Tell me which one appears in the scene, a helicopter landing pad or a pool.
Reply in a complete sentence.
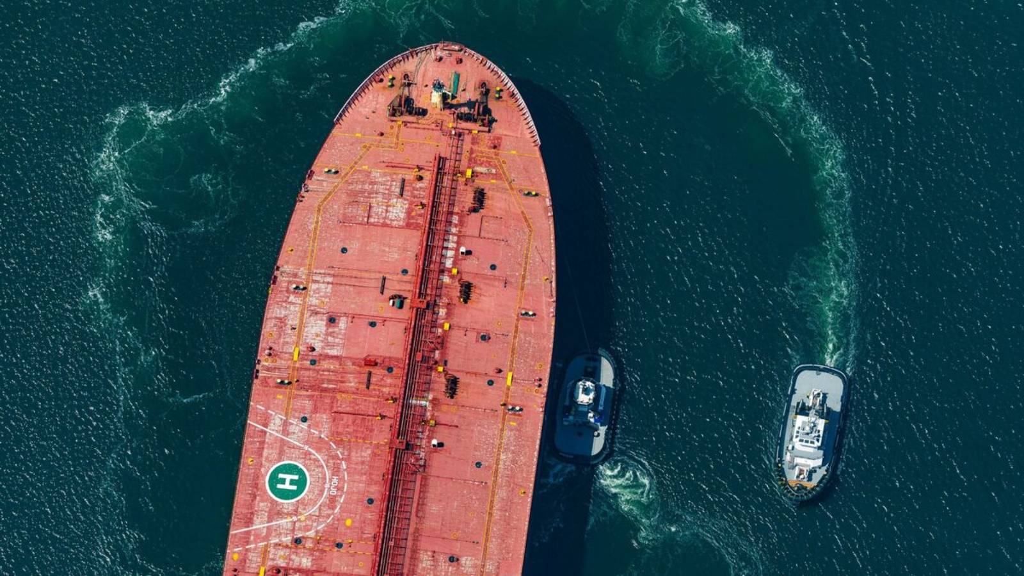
This aerial view contains a helicopter landing pad.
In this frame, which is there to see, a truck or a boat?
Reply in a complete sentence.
Looking from above, you can make out a boat.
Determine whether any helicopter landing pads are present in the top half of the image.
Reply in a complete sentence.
No, no helicopter landing pad can be made out in the top half of the image.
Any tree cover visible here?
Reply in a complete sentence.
No, the scene doesn't show any tree cover.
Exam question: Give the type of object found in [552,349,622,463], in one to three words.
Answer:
boat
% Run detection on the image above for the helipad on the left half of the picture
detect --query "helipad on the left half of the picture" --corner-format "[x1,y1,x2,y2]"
[228,403,347,551]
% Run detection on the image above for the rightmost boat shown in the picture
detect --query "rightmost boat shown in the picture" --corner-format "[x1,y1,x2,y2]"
[775,364,849,505]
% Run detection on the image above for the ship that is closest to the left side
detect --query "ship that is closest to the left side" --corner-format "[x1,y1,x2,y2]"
[222,41,557,576]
